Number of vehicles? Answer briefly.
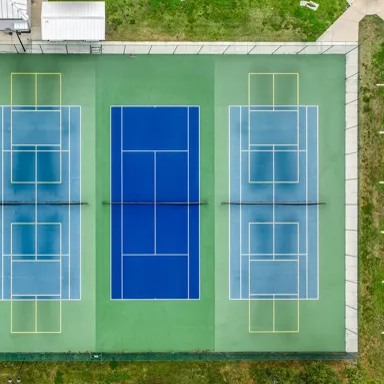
none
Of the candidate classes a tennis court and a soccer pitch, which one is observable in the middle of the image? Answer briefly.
tennis court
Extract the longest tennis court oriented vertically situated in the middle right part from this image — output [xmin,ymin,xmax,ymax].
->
[215,54,346,352]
